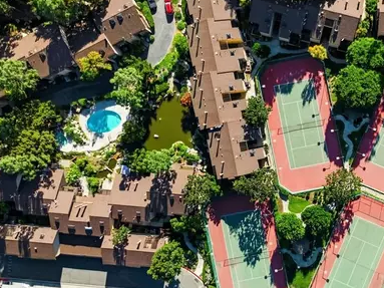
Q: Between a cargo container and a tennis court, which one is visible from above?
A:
tennis court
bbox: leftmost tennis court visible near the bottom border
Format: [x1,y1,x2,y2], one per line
[208,190,286,288]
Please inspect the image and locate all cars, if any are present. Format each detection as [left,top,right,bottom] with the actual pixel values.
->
[146,0,155,11]
[164,0,173,14]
